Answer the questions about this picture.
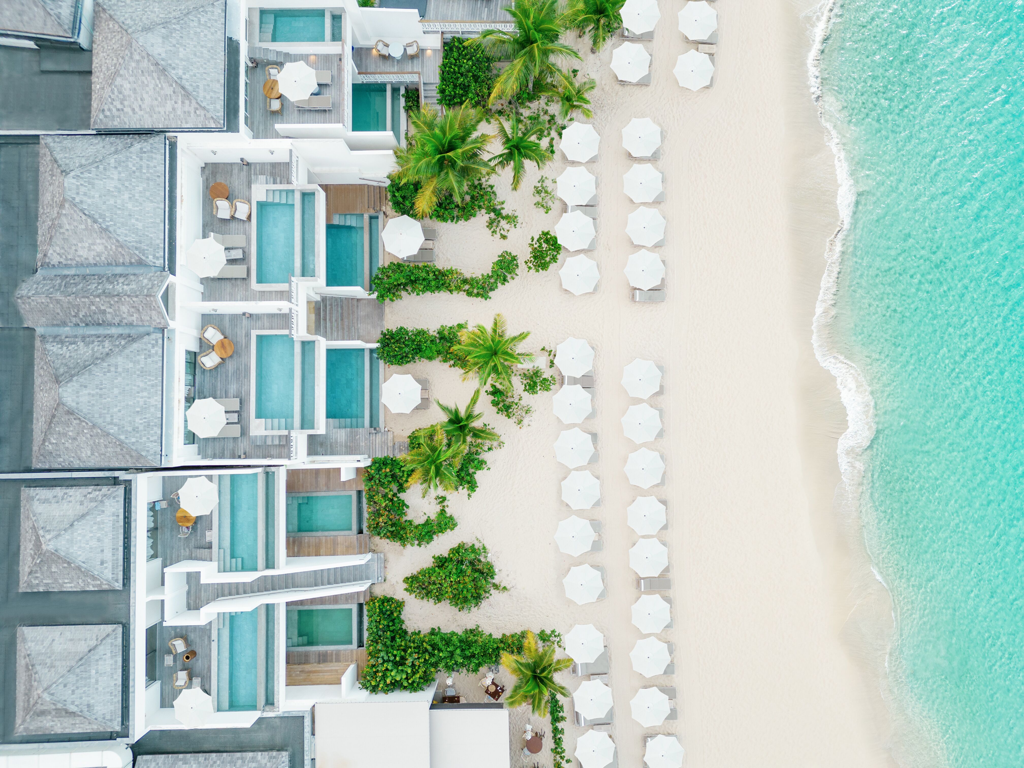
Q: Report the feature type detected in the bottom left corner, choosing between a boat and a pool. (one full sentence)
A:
It is a pool that can be seen in the bottom left corner.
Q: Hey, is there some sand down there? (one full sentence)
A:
Yes, some sand is visible.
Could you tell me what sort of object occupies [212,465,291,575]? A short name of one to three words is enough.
swimming pool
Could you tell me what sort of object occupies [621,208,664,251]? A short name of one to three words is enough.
umbrella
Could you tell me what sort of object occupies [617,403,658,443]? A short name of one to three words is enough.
umbrella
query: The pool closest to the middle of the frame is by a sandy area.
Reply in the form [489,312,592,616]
[327,346,386,432]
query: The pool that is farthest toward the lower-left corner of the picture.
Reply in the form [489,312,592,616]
[212,591,290,713]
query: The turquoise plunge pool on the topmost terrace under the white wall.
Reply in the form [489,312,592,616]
[251,7,350,54]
